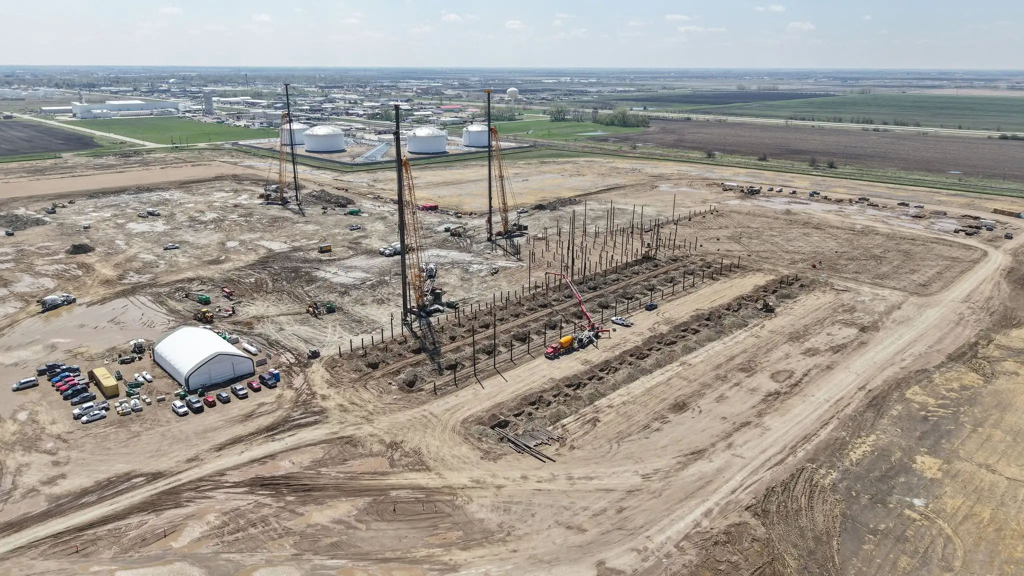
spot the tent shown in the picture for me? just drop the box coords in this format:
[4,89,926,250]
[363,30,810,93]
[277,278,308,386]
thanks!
[154,323,255,393]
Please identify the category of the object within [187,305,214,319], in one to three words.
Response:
work vehicle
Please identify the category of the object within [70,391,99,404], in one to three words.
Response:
vehicle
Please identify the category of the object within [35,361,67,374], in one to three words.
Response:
vehicle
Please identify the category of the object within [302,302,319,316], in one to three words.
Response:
work vehicle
